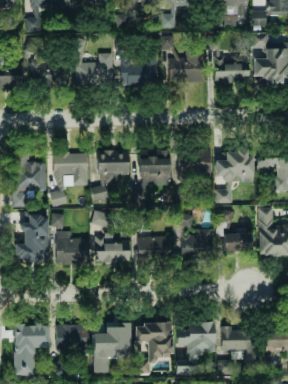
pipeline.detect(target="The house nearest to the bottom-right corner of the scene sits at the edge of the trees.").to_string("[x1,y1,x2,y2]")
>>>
[266,338,288,354]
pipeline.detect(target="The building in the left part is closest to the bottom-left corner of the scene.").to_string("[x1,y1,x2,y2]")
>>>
[14,325,50,376]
